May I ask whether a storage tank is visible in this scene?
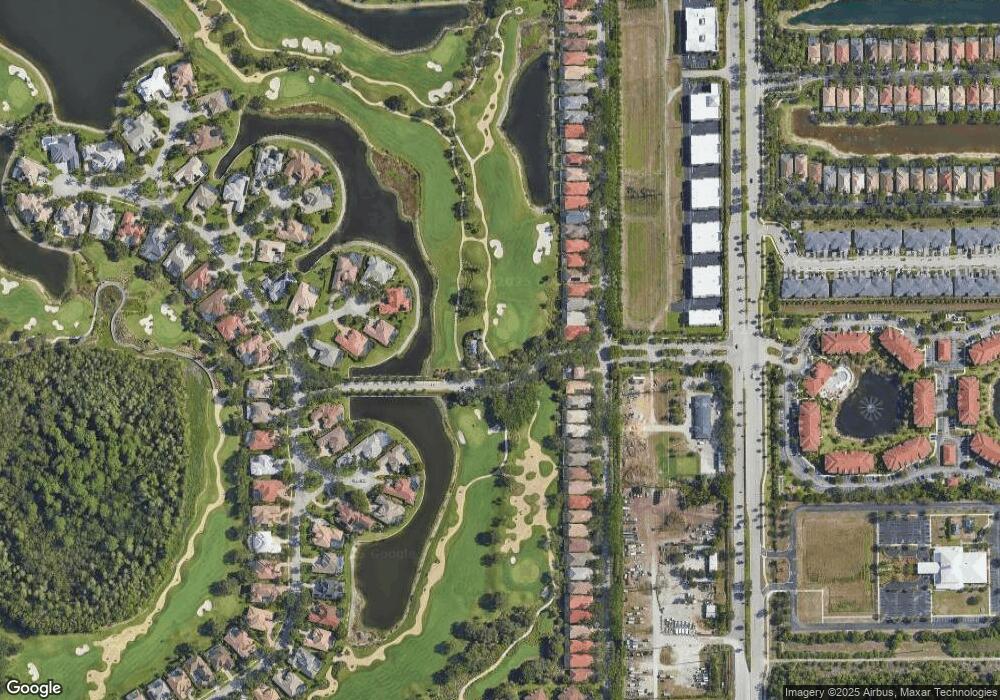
No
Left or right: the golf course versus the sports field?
left of it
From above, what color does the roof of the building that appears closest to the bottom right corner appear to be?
white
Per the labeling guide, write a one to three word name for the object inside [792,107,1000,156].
pond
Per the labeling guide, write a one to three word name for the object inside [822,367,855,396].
swimming pool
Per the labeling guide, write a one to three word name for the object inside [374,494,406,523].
house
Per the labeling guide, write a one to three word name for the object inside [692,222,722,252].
building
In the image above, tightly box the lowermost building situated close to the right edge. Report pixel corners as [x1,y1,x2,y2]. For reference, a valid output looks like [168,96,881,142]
[919,547,988,590]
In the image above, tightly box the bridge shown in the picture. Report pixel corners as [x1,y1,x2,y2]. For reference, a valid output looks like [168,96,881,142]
[336,376,478,396]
